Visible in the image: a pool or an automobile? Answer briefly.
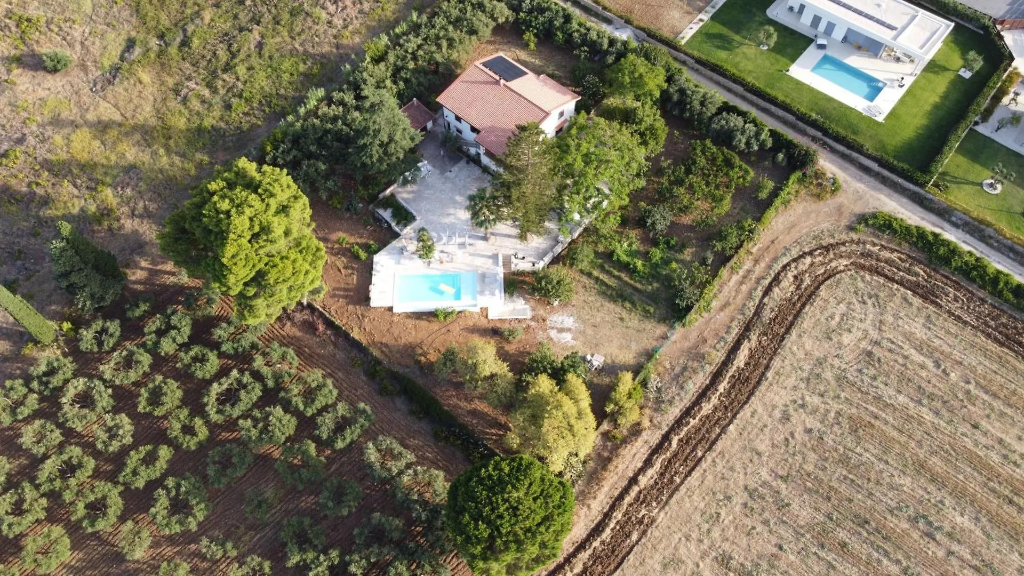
pool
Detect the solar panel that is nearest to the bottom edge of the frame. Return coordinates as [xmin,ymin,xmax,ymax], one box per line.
[480,57,533,81]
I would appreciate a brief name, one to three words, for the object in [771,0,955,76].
house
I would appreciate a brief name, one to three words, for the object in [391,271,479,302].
swimming pool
